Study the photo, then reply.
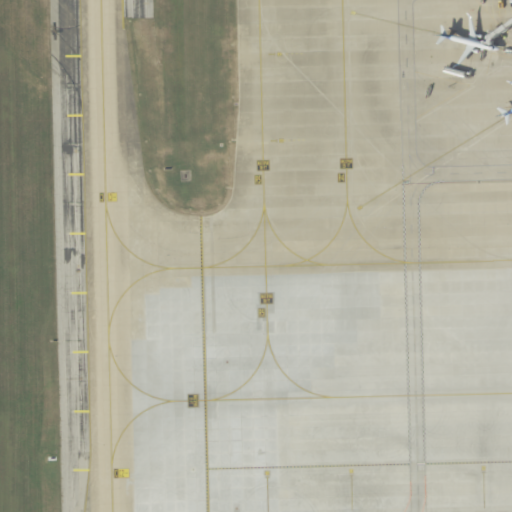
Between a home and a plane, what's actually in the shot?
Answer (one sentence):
The one in the frame is a plane.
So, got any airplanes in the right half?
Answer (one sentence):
Yes, there is an airplane in the right half.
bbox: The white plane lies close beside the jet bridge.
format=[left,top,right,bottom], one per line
[436,14,498,64]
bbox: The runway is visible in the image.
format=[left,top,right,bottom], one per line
[50,0,98,512]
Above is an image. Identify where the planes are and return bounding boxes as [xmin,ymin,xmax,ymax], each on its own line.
[498,108,512,124]
[436,14,498,64]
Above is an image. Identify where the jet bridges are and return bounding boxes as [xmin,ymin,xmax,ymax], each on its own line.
[486,18,512,46]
